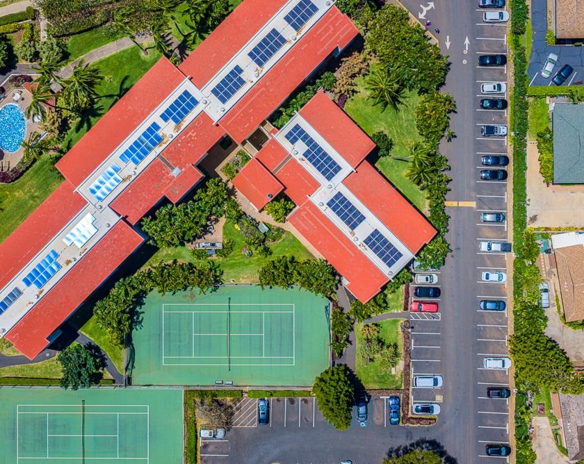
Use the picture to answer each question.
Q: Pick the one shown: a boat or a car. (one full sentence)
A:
The one in the frame is a car.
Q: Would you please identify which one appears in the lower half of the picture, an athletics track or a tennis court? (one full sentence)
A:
The one visible in the lower half of the picture is a tennis court.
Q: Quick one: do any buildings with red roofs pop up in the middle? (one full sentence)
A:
Yes, a building with a red roof appears in the middle.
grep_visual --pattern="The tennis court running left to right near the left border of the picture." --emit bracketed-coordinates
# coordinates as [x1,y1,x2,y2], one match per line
[0,388,182,464]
